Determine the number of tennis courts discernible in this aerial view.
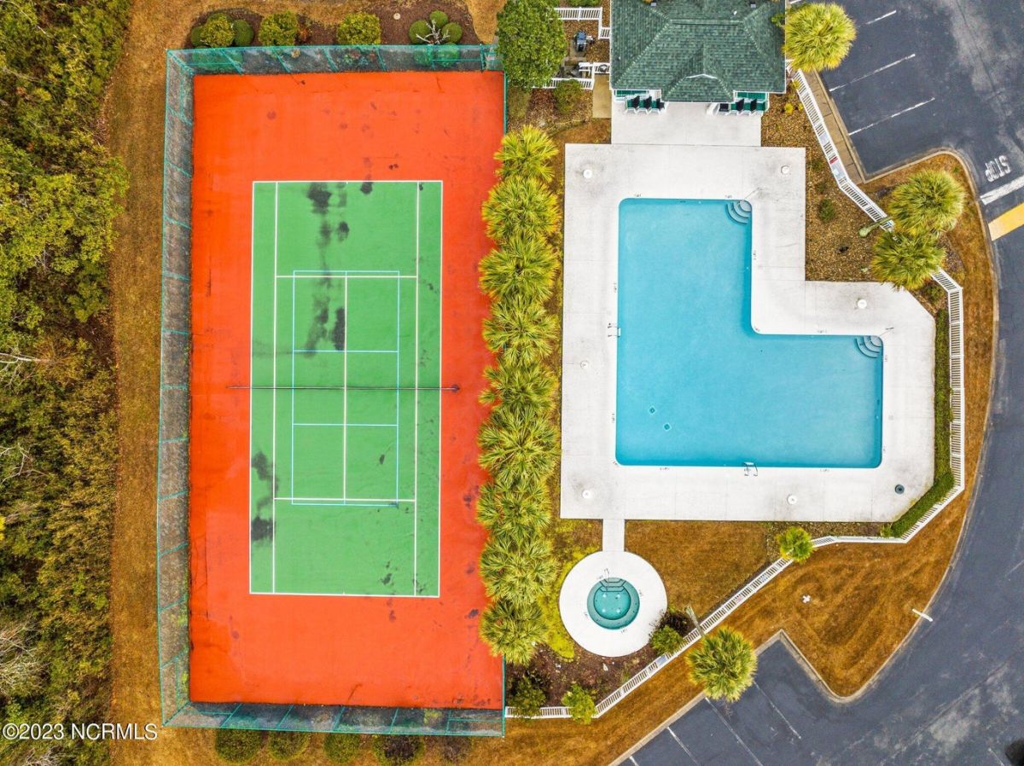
1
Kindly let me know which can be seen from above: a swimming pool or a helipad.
swimming pool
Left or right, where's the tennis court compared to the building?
on its left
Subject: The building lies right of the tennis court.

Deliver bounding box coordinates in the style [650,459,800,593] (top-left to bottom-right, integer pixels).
[612,0,786,117]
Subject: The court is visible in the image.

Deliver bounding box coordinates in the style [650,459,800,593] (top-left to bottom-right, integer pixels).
[189,71,504,710]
